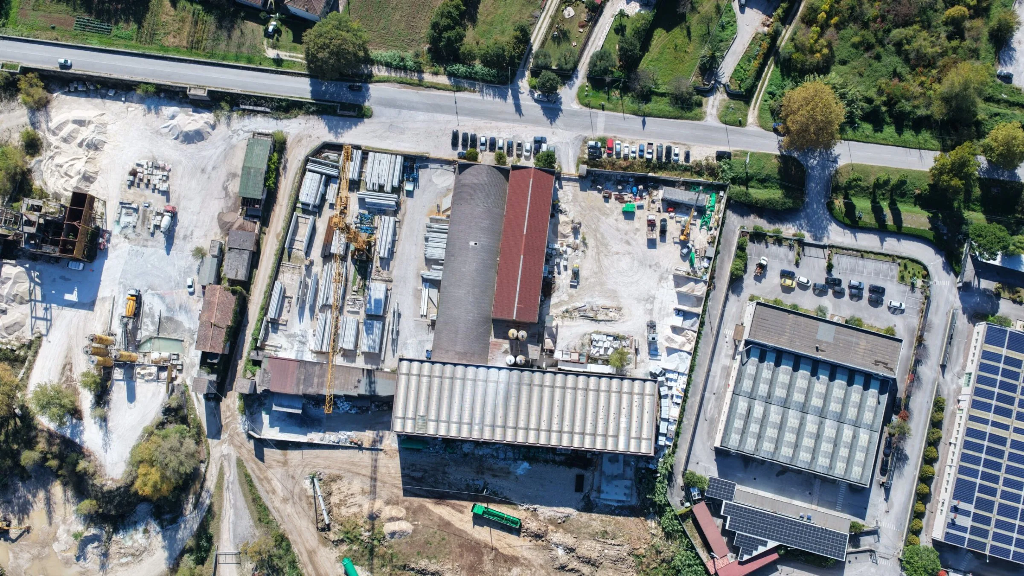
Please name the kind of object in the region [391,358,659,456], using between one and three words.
building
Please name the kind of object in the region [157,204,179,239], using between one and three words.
truck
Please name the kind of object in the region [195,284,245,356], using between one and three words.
house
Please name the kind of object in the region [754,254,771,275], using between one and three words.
vehicle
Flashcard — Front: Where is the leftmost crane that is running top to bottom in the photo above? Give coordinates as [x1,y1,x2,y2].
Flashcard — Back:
[325,146,372,412]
